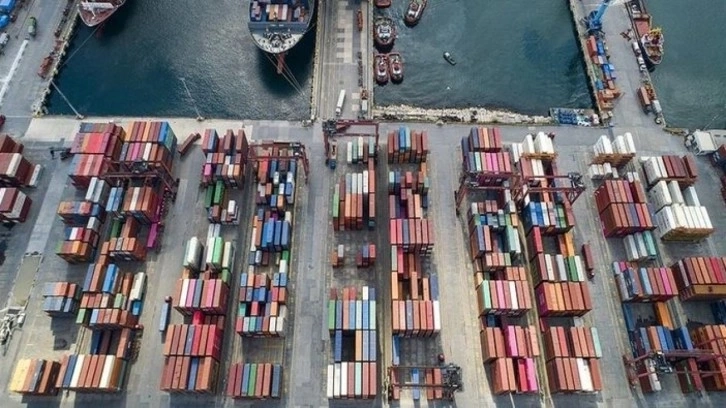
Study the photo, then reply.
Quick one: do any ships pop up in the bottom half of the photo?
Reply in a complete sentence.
No, in the bottom half of the photo there is no ship.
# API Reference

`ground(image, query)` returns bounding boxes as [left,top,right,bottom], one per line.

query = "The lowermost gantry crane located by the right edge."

[622,348,726,387]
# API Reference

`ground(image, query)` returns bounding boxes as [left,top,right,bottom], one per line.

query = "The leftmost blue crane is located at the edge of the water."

[578,0,612,37]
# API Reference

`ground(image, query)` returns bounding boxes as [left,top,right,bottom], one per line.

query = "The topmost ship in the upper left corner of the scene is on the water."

[77,0,139,31]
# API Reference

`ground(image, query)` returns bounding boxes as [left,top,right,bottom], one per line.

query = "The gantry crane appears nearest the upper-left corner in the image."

[94,158,180,201]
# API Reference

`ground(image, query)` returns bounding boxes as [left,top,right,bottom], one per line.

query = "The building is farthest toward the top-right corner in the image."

[691,123,726,152]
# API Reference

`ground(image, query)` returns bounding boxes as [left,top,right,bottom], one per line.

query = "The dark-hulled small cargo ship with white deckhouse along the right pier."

[624,0,669,71]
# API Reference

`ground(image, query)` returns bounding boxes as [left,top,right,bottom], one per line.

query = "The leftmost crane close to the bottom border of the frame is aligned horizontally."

[386,362,470,400]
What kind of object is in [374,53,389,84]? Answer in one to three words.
boat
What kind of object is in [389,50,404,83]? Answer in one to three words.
boat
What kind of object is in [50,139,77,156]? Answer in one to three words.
work vehicle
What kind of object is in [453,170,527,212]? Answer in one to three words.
container crane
